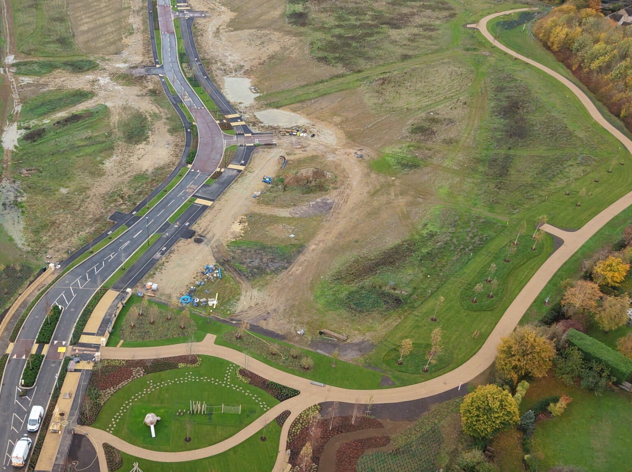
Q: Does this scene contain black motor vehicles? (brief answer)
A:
No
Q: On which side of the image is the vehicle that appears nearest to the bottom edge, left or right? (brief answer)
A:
left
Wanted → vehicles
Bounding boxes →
[15,435,38,465]
[28,404,45,430]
